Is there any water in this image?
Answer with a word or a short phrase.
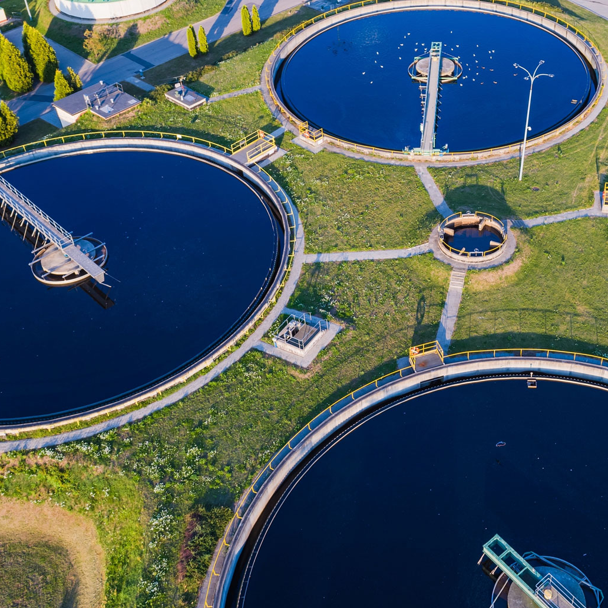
Yes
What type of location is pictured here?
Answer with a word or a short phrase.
industrial area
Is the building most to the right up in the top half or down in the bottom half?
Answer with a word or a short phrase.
top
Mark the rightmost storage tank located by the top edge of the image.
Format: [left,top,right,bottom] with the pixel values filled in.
[269,0,605,164]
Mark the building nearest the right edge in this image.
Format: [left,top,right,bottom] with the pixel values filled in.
[165,71,207,113]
